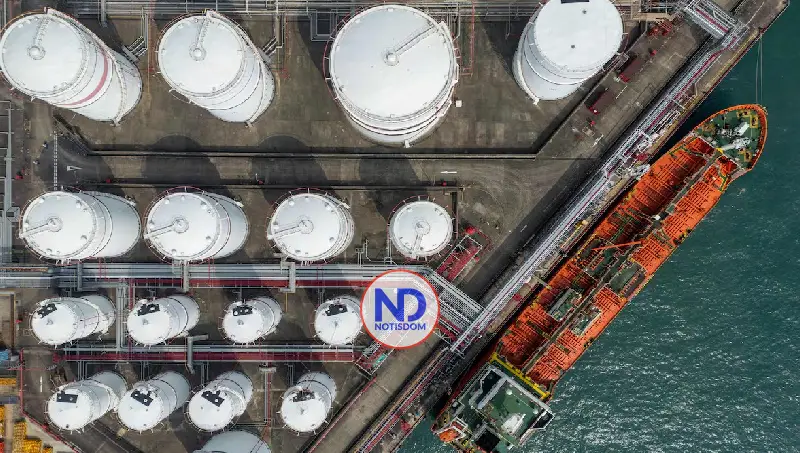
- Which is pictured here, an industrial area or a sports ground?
industrial area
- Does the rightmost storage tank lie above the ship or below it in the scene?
above it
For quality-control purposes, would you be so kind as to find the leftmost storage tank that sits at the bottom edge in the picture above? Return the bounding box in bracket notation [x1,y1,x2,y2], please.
[45,369,129,435]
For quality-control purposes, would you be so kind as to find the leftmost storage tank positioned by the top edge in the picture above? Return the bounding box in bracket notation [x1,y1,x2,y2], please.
[0,8,147,123]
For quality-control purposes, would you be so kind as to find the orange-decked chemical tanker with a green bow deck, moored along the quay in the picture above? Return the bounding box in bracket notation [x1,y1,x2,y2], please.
[424,97,771,453]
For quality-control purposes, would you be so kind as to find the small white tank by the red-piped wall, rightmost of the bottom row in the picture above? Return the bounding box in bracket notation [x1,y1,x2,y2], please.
[277,370,337,437]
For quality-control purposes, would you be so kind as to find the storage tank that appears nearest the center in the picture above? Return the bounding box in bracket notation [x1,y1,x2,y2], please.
[385,197,457,262]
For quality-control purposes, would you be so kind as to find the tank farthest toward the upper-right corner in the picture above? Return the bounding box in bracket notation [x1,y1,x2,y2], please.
[509,0,627,102]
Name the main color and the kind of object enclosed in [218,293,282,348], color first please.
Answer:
white storage tank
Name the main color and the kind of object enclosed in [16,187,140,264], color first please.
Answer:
white storage tank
